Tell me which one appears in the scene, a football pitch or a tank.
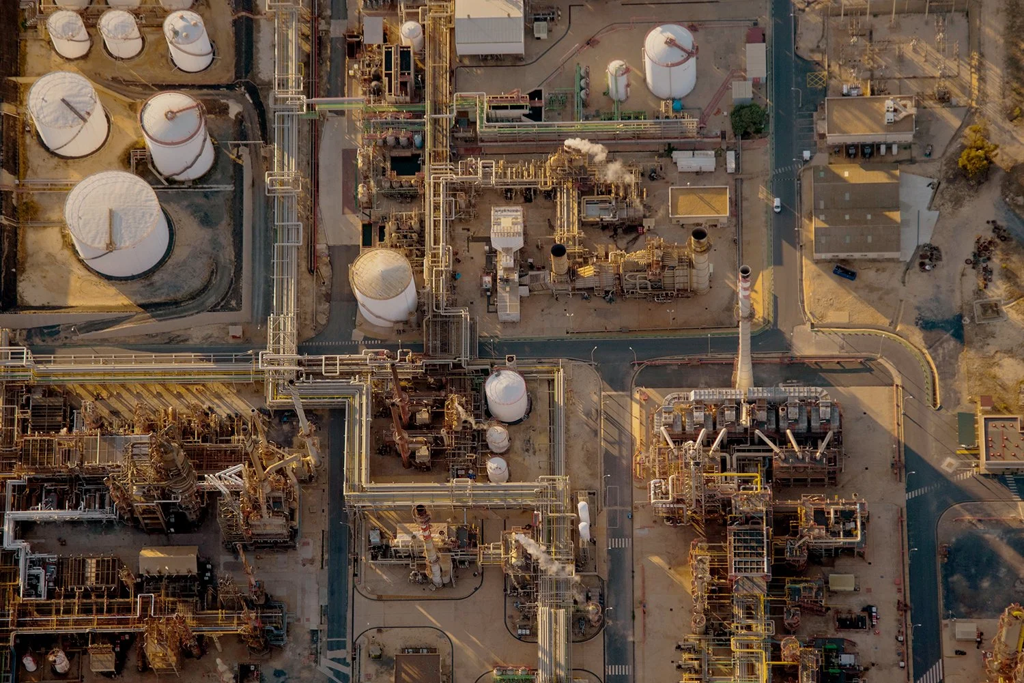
tank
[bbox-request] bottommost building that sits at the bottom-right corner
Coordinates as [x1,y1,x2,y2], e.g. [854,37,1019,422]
[955,622,977,639]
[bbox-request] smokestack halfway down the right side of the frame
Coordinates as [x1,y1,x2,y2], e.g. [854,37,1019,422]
[735,263,758,390]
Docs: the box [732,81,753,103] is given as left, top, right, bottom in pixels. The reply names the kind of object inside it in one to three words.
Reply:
shed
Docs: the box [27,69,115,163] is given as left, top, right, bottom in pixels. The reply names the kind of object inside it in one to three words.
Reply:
storage tank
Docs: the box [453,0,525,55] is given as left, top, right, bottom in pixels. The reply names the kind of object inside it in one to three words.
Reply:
building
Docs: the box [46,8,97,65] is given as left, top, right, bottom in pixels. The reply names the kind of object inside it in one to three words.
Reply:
storage tank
